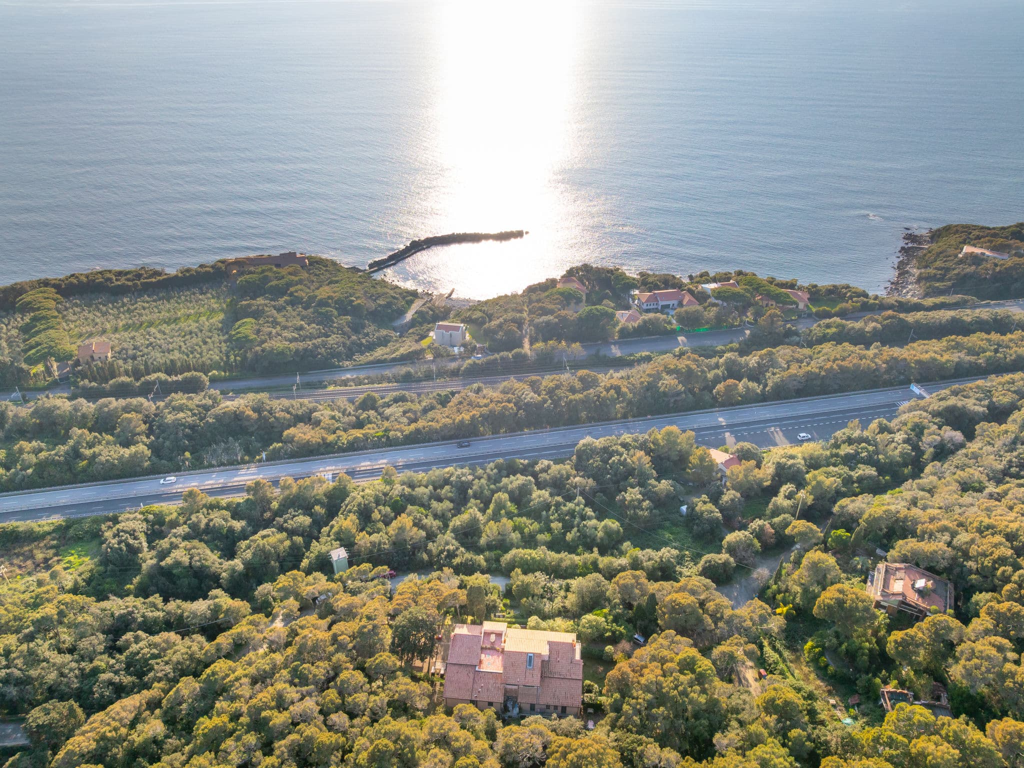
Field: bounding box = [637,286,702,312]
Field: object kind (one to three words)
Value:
house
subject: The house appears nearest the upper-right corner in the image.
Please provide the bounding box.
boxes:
[958,243,1014,262]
